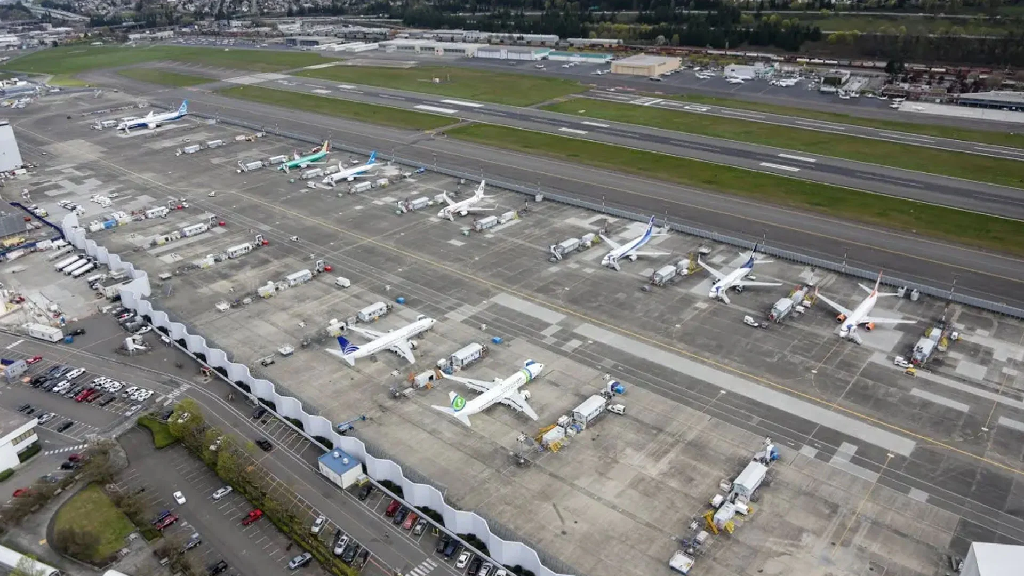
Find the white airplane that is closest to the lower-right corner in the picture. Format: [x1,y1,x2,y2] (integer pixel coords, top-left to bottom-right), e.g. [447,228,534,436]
[814,274,915,338]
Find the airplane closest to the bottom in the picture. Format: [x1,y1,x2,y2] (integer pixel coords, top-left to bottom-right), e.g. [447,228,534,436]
[443,363,543,425]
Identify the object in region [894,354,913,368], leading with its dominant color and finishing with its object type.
white vehicle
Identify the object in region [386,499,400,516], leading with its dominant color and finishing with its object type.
red car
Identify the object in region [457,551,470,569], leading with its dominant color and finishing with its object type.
white vehicle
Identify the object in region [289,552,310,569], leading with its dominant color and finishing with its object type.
gray car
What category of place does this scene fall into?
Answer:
airport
